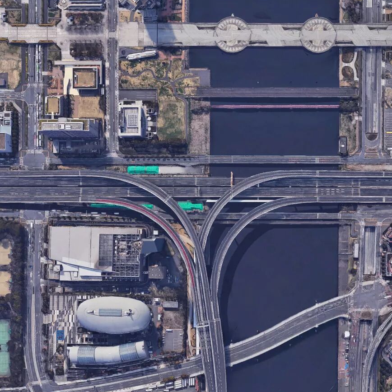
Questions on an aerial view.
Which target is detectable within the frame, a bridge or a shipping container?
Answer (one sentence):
Looking from above, you can make out a bridge.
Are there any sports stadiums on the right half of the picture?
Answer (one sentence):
No, there's no sports stadium to be seen on the right half of the picture.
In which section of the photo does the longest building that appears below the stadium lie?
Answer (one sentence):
The longest building that appears below the stadium is in the bottom left part of the image.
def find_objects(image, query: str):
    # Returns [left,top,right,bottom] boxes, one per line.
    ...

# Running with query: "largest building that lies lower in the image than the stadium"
[67,343,146,370]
